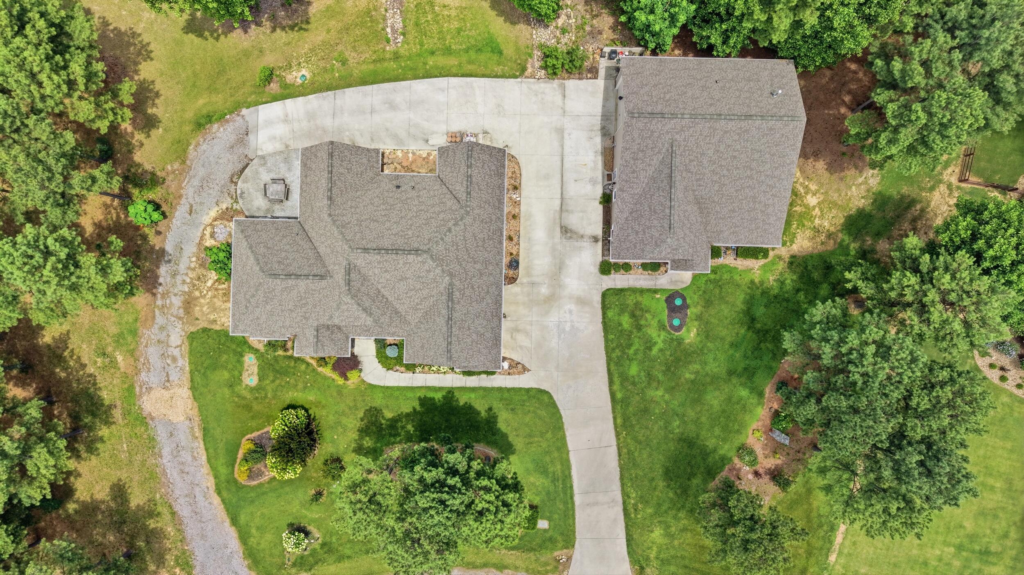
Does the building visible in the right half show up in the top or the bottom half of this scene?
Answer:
top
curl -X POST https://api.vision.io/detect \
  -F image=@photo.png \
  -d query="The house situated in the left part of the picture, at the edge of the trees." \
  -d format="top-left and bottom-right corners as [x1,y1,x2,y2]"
[230,141,507,372]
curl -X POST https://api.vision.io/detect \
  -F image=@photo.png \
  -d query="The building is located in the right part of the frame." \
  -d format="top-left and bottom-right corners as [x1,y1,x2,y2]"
[602,56,806,273]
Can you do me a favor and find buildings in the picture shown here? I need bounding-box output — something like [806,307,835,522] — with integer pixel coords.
[230,141,507,372]
[602,56,806,273]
